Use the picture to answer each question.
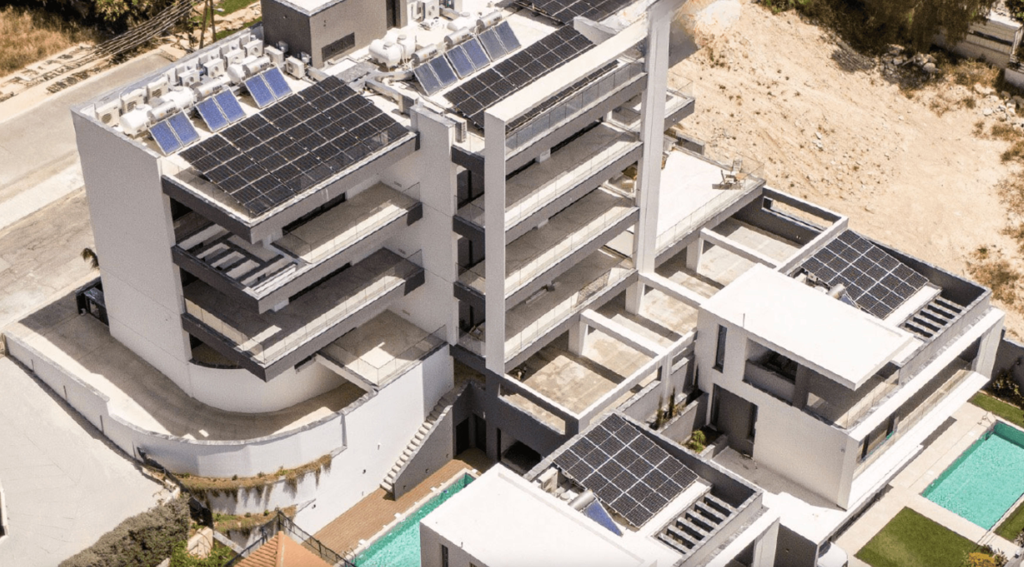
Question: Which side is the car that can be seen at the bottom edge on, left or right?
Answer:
right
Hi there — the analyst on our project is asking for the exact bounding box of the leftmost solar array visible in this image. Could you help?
[178,75,410,218]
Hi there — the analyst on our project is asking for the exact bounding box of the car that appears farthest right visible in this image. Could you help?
[816,539,858,567]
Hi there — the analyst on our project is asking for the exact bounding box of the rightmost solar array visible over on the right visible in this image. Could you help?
[802,230,931,320]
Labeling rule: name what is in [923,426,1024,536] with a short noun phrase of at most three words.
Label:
swimming pool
